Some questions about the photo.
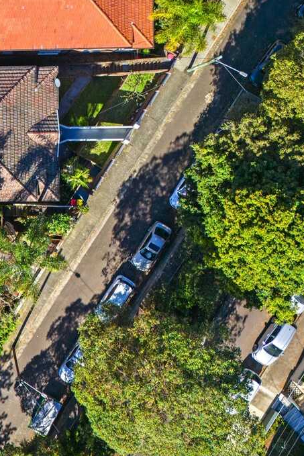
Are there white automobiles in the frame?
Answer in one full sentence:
Yes, this view includes a white automobile.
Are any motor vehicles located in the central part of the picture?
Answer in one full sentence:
Yes, there is a motor vehicle in the central part of the picture.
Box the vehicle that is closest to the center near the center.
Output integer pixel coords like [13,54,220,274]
[131,217,173,274]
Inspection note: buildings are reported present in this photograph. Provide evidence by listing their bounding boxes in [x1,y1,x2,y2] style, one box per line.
[0,0,153,54]
[0,65,64,204]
